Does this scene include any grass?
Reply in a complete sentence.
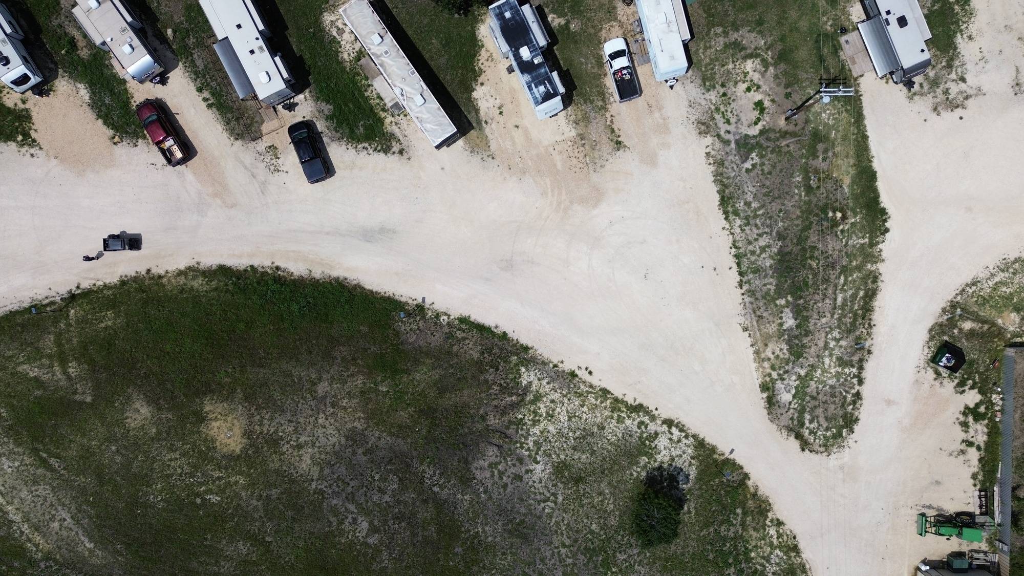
Yes, there is grass in the image.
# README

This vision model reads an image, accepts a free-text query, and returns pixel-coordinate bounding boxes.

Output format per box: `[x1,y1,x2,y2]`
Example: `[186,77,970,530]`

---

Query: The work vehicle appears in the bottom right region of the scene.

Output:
[912,510,982,543]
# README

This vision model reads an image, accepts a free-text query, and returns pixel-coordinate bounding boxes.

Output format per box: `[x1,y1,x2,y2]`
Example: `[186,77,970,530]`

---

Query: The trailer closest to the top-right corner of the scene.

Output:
[852,0,932,92]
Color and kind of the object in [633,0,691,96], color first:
white trailer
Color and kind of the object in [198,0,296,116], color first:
white trailer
